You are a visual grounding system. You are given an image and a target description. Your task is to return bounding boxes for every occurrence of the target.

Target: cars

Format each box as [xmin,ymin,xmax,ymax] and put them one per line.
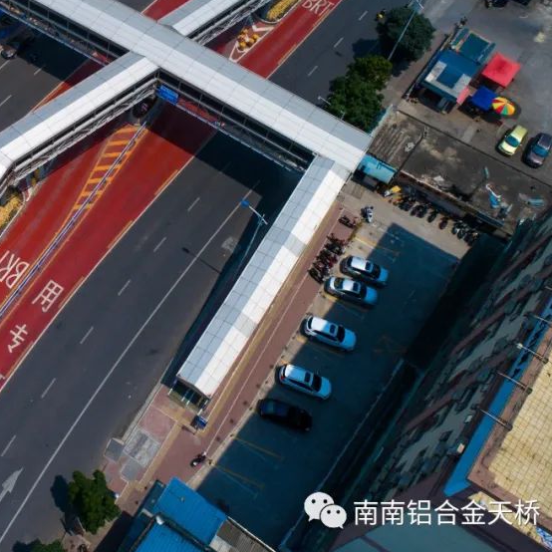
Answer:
[303,315,356,353]
[277,366,332,403]
[325,275,377,309]
[339,254,391,289]
[496,124,530,155]
[255,395,313,435]
[524,129,552,166]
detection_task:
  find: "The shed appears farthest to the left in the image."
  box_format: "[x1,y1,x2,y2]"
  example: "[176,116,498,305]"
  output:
[118,481,166,552]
